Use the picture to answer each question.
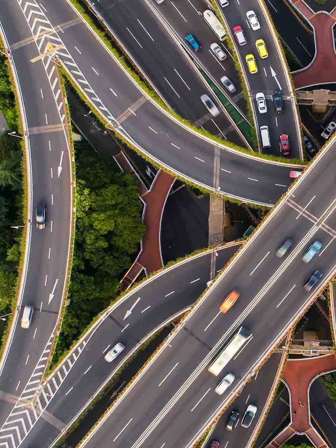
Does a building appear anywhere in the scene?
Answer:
No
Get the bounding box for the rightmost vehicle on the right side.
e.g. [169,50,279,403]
[322,120,336,138]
